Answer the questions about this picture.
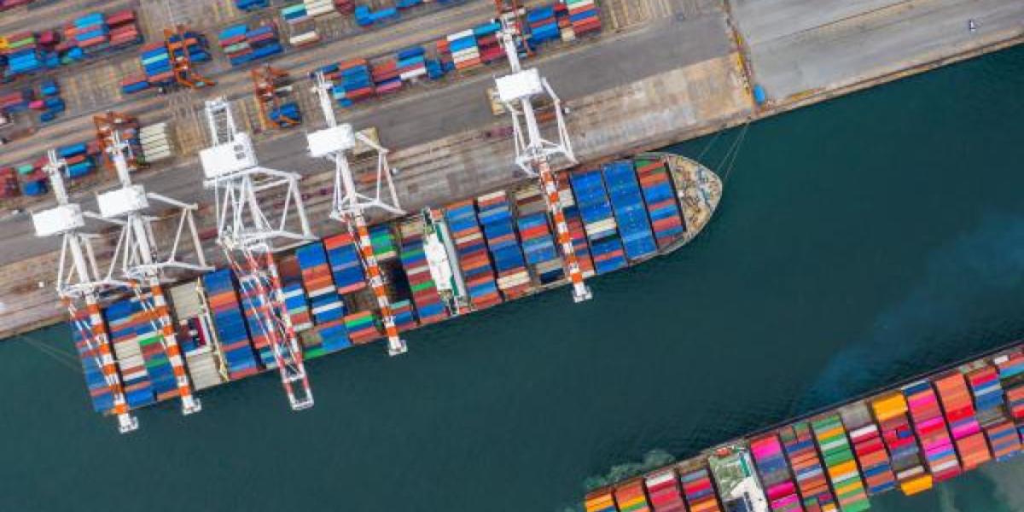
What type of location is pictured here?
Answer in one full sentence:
It's a port.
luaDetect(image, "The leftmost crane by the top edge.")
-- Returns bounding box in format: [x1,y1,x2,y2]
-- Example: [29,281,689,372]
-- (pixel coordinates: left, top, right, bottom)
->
[157,19,219,91]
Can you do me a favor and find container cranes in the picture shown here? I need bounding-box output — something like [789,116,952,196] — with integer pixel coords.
[97,107,161,175]
[303,74,416,356]
[490,20,591,302]
[96,133,225,415]
[496,0,545,63]
[157,19,219,91]
[34,151,167,433]
[198,98,328,410]
[256,61,314,131]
